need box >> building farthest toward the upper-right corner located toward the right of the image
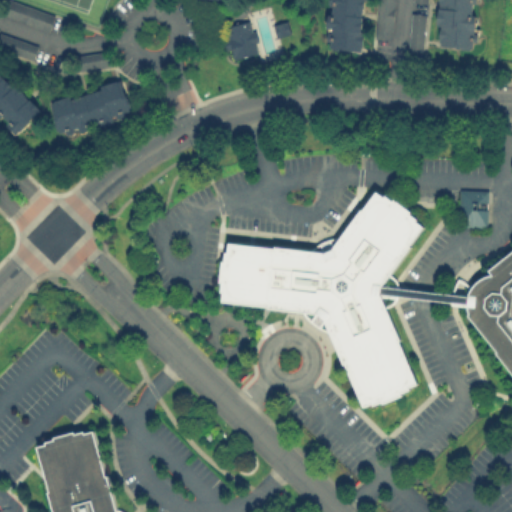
[438,0,482,52]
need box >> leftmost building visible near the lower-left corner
[36,431,117,512]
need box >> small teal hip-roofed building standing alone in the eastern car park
[460,190,490,228]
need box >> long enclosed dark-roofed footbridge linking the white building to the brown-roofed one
[384,288,477,310]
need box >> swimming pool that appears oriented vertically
[253,8,282,59]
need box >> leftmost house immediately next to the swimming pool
[226,22,260,62]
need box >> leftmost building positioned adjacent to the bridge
[220,193,424,408]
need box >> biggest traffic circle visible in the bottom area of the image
[258,326,324,391]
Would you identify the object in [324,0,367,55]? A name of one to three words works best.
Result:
building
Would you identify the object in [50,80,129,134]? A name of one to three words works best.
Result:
building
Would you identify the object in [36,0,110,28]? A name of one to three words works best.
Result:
tennis court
